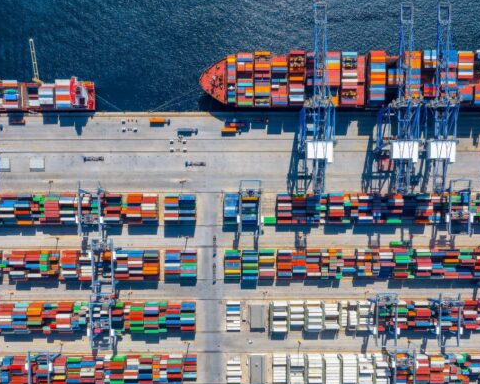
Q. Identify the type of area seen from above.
port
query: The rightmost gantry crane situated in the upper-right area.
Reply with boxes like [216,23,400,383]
[404,2,466,195]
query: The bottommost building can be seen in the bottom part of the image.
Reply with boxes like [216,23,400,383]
[250,354,266,384]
